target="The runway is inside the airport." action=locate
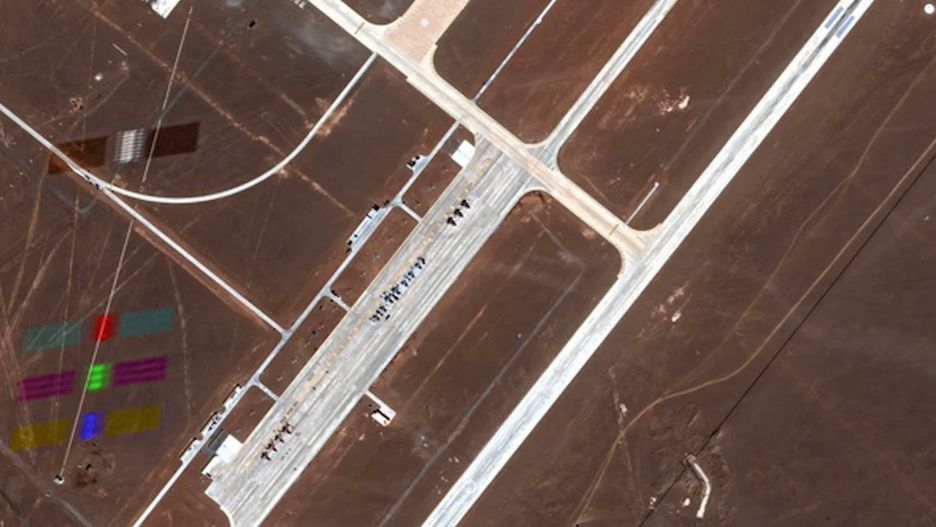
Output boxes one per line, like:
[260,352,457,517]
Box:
[420,0,875,527]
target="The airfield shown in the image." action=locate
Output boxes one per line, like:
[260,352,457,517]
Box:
[205,0,875,527]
